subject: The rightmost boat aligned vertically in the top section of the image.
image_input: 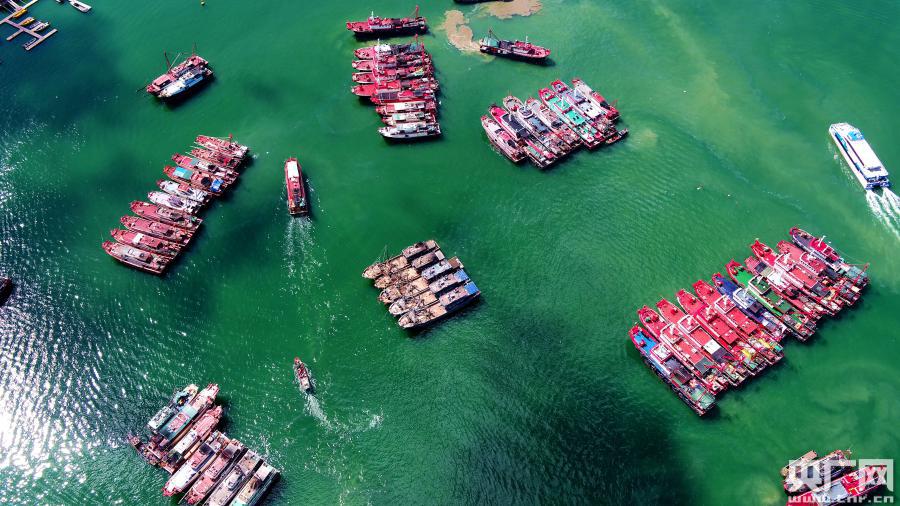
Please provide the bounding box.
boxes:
[283,157,308,220]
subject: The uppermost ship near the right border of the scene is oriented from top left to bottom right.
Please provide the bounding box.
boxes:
[826,124,889,192]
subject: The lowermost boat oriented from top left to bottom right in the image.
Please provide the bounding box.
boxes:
[128,435,167,473]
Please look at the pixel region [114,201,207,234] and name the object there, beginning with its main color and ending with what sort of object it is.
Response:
pink boat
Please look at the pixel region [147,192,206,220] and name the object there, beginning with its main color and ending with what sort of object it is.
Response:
white boat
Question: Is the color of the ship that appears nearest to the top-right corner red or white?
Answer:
white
